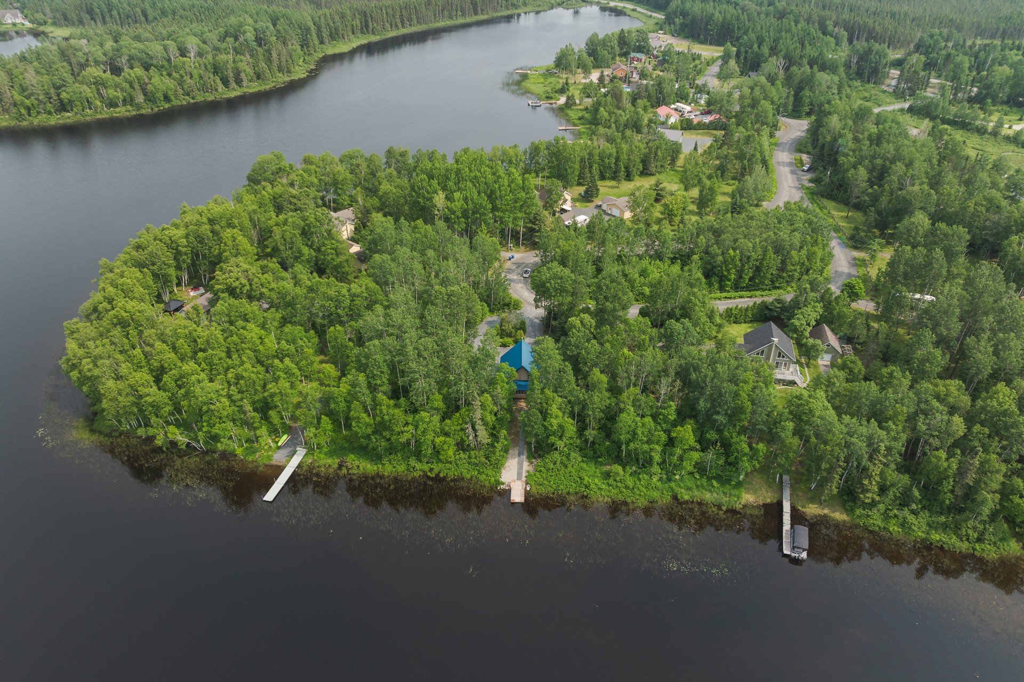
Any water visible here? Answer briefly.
Yes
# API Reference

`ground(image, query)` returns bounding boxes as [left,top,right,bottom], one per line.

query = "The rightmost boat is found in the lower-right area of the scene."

[790,517,809,556]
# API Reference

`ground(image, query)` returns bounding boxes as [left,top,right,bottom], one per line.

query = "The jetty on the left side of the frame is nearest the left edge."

[264,453,305,501]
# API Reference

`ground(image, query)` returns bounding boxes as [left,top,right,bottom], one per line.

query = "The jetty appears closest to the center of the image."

[509,481,526,505]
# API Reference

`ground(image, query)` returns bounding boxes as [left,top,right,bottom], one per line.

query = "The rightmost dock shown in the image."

[780,473,792,555]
